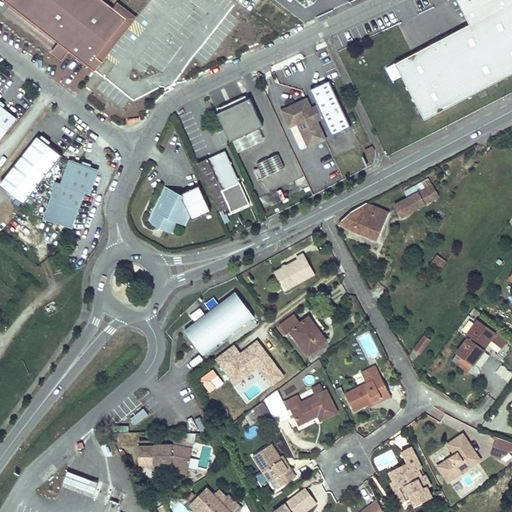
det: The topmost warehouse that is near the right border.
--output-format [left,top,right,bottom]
[395,0,512,122]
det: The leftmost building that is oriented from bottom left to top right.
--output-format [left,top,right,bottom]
[0,136,60,204]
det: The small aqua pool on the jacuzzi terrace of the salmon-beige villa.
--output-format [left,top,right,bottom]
[451,466,488,498]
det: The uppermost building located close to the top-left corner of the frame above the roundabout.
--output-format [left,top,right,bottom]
[6,0,137,69]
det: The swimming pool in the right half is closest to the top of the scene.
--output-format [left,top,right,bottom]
[356,331,381,364]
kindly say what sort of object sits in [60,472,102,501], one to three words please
shed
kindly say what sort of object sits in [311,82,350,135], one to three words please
building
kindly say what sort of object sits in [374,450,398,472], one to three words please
swimming pool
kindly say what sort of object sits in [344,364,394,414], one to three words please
house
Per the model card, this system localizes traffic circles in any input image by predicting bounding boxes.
[90,246,172,326]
